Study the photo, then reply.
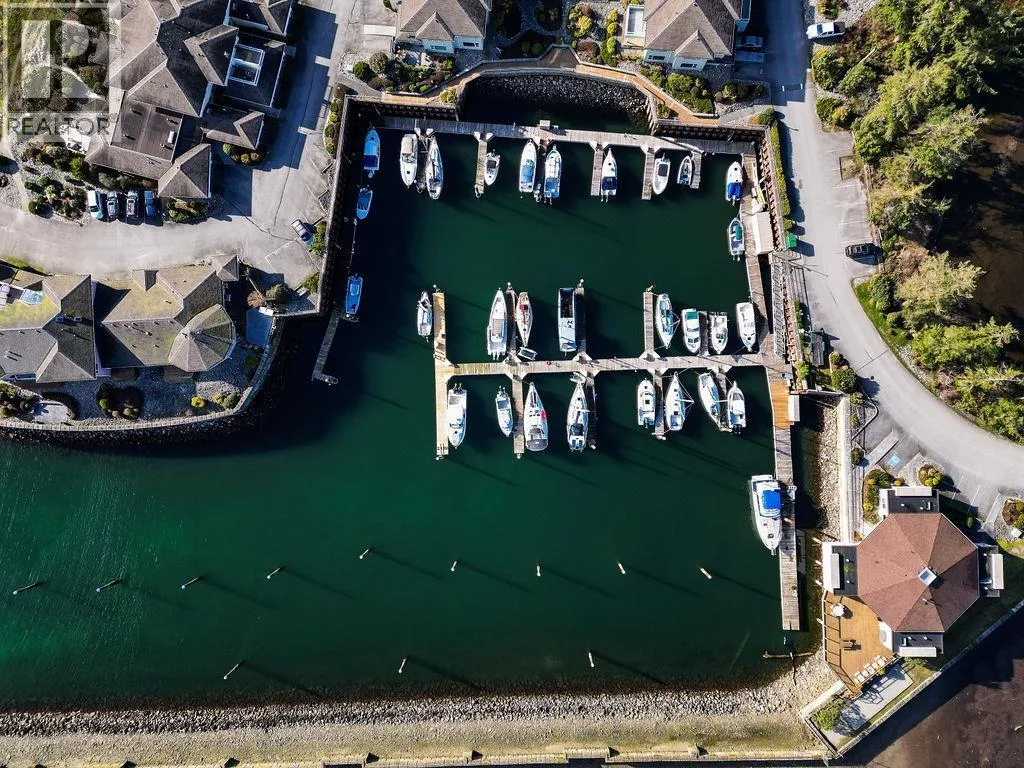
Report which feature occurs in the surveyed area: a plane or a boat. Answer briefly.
boat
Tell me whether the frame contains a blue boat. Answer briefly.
Yes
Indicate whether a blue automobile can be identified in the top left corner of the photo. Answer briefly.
Yes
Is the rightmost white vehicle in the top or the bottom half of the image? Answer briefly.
top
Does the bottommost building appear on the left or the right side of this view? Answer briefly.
right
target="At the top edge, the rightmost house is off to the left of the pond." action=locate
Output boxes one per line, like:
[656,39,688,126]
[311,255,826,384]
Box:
[640,0,750,70]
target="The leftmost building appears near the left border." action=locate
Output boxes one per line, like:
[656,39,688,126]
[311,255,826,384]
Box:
[0,261,112,383]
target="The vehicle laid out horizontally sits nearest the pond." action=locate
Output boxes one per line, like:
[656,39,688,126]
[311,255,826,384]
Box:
[843,243,875,259]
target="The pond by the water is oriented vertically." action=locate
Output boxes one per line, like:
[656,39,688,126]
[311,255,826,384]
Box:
[926,0,1024,398]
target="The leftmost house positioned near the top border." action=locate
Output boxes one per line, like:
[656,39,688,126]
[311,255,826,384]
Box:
[88,0,293,200]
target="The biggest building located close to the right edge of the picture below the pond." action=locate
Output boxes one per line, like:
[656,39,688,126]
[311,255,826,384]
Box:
[822,484,1004,657]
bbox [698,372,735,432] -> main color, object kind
white boat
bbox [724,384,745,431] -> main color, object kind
white boat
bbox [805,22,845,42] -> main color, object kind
white vehicle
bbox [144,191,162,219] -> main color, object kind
blue car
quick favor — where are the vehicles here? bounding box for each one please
[291,220,316,247]
[843,243,875,259]
[107,191,124,220]
[88,190,108,220]
[126,190,144,220]
[144,191,162,219]
[805,22,845,42]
